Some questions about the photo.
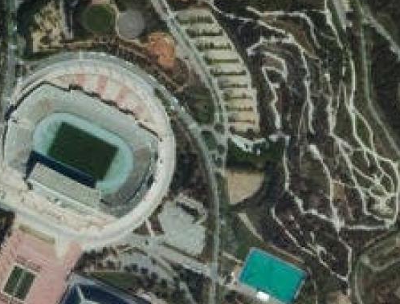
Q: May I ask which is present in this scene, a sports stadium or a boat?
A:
sports stadium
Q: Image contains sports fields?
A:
Yes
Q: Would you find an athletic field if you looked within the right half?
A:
Yes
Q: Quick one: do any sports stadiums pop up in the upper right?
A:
No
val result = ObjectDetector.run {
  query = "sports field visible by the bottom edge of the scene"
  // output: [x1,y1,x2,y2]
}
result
[239,249,306,304]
